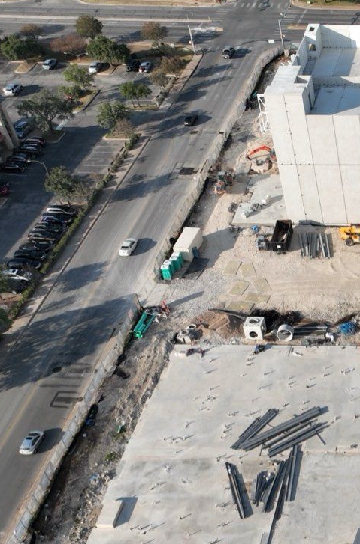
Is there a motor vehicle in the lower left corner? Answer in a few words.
Yes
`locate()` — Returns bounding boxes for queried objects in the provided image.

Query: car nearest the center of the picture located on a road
[116,240,140,256]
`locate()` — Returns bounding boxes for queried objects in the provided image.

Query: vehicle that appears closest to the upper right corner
[222,46,236,58]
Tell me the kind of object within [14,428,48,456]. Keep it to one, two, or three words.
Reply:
car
